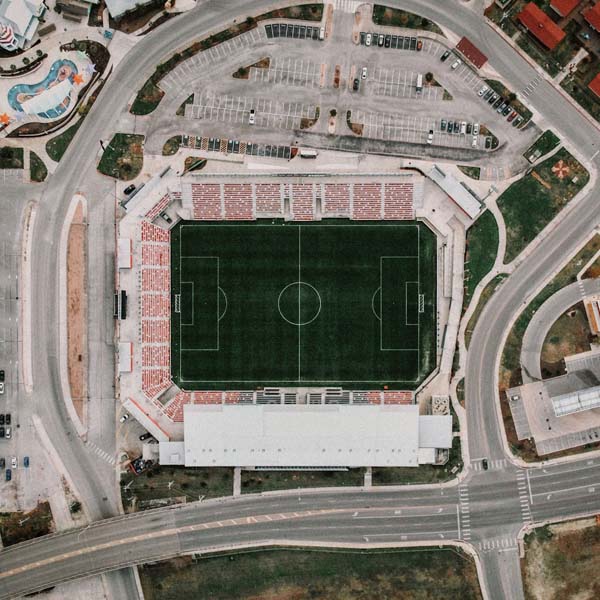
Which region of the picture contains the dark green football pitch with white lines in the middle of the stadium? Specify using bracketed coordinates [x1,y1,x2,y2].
[171,219,437,391]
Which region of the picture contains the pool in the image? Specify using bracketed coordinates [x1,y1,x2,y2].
[8,59,78,119]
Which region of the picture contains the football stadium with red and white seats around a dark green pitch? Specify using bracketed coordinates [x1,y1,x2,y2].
[141,173,452,471]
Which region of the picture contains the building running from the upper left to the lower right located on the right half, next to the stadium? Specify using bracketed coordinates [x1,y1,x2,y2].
[429,164,484,220]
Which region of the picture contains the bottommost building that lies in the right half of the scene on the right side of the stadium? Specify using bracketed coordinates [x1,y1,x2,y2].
[551,384,600,417]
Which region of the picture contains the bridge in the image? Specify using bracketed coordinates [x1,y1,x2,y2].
[0,504,177,600]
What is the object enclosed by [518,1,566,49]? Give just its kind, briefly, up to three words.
house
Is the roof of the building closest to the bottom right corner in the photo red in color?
No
